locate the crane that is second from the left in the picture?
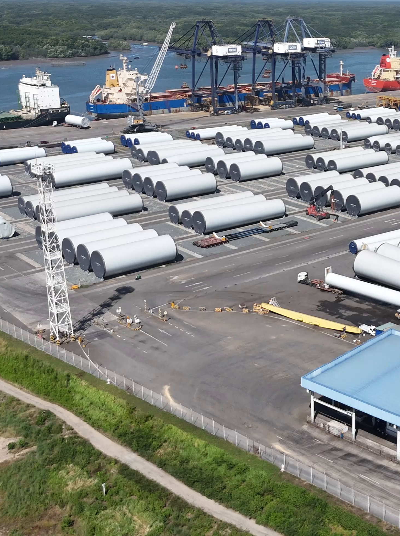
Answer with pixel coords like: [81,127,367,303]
[155,15,252,115]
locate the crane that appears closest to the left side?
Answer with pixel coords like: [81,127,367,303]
[123,22,174,131]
